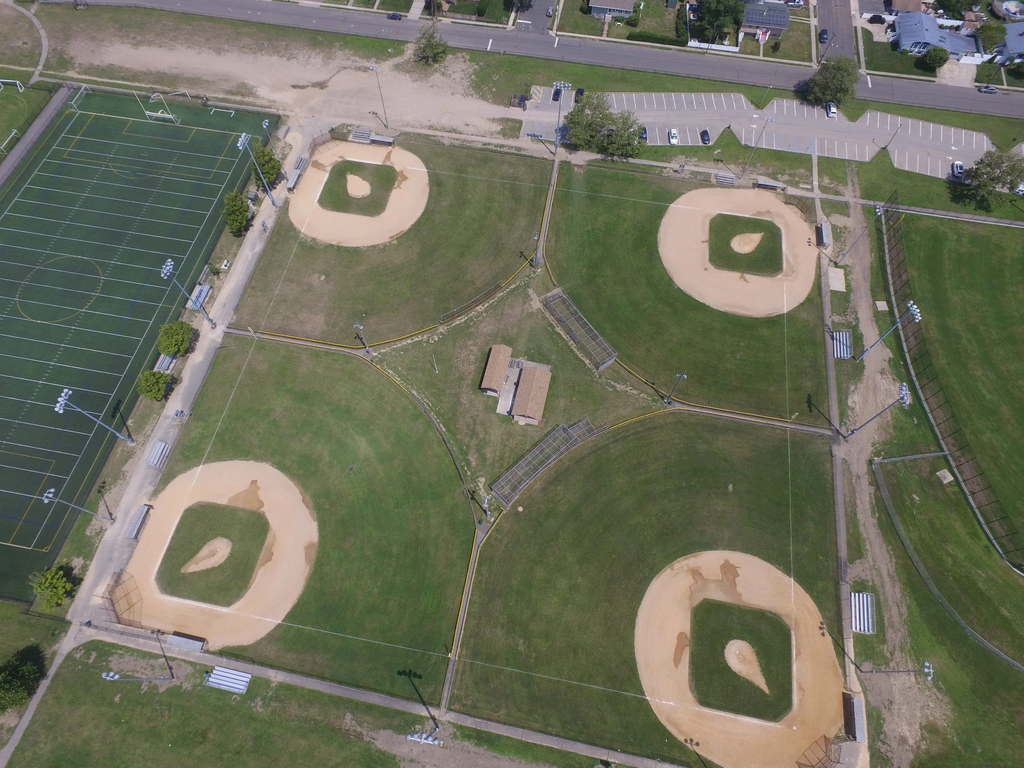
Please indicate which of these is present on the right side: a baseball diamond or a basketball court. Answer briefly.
baseball diamond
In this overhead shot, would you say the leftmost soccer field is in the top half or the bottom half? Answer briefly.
top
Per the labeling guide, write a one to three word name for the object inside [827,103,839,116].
vehicle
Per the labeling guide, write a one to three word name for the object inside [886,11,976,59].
house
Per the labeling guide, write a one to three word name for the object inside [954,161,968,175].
car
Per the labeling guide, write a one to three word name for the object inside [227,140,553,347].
baseball field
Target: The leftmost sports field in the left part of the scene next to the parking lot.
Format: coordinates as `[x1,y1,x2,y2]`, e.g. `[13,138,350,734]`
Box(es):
[0,93,279,602]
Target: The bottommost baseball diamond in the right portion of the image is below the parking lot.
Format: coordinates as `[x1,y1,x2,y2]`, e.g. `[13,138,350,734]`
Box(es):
[448,409,851,768]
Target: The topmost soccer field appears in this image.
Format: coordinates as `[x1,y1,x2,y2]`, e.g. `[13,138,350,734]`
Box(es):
[0,85,51,158]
